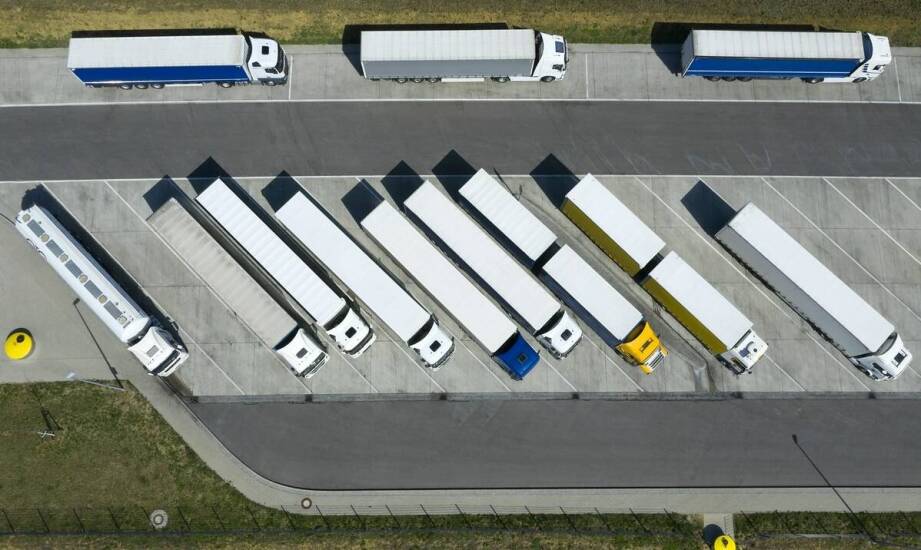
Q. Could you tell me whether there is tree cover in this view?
No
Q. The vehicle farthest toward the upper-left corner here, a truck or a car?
truck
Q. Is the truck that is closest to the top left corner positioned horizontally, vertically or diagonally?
horizontally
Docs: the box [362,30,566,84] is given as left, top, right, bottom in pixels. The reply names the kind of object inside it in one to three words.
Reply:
truck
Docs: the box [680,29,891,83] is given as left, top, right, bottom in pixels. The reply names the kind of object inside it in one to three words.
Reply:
truck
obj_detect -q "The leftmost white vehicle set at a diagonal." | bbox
[13,205,183,369]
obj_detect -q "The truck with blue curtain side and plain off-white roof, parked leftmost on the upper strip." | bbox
[66,35,288,90]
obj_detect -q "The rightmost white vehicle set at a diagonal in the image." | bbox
[715,202,915,384]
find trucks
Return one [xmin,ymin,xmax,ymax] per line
[715,202,915,384]
[13,205,183,369]
[458,169,665,375]
[66,35,288,90]
[404,182,585,361]
[680,29,891,83]
[148,199,331,380]
[560,174,766,374]
[361,201,542,384]
[196,178,377,357]
[362,30,566,84]
[276,192,459,371]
